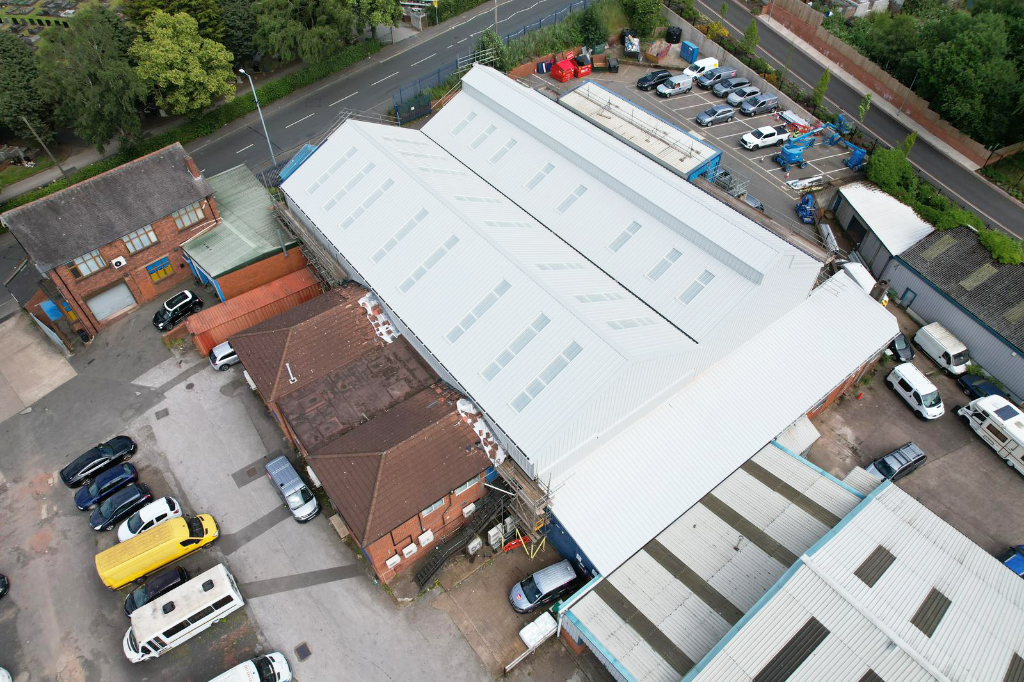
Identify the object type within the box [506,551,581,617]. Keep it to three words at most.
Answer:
van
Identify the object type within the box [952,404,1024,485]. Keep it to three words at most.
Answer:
camper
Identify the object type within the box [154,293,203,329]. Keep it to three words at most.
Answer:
car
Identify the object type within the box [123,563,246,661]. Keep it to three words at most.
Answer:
vehicle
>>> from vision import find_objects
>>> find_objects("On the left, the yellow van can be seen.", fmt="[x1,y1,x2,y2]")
[87,514,224,590]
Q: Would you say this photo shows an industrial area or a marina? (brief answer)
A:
industrial area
